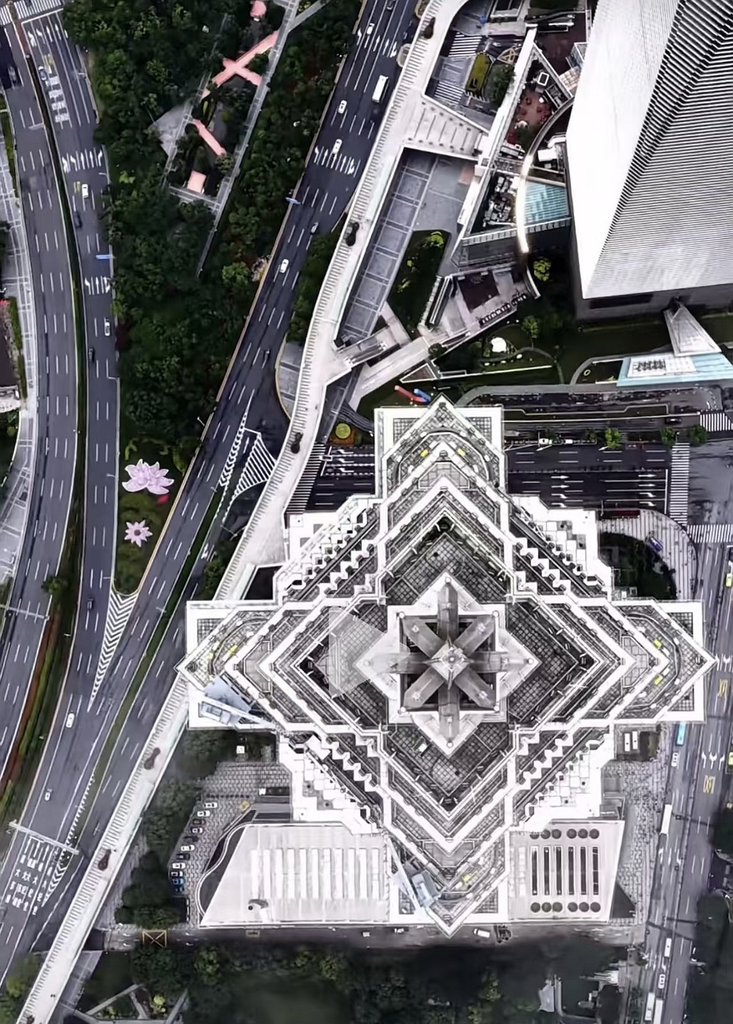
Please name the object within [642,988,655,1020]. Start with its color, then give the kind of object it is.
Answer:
white vehicle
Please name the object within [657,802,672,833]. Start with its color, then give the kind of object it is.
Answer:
white vehicle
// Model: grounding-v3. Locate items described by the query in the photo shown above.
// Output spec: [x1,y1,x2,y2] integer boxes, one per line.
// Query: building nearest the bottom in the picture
[539,981,555,1012]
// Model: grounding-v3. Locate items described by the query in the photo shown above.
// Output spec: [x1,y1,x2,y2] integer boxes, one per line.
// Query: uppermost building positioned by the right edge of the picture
[565,0,733,320]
